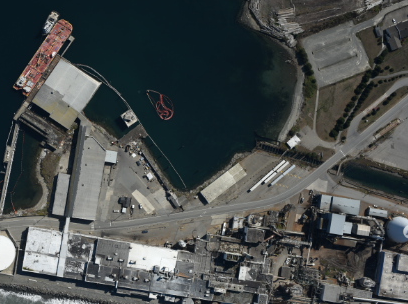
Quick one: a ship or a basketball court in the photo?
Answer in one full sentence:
This aerial view contains a ship.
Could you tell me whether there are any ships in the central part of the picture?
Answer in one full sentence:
No, no ship can be made out in the central part of the picture.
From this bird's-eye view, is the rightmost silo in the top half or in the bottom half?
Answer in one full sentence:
The rightmost silo is in the bottom half of the image.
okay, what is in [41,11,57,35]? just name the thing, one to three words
boat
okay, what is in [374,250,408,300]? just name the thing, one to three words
building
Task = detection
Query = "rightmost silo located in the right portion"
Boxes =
[386,216,408,244]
